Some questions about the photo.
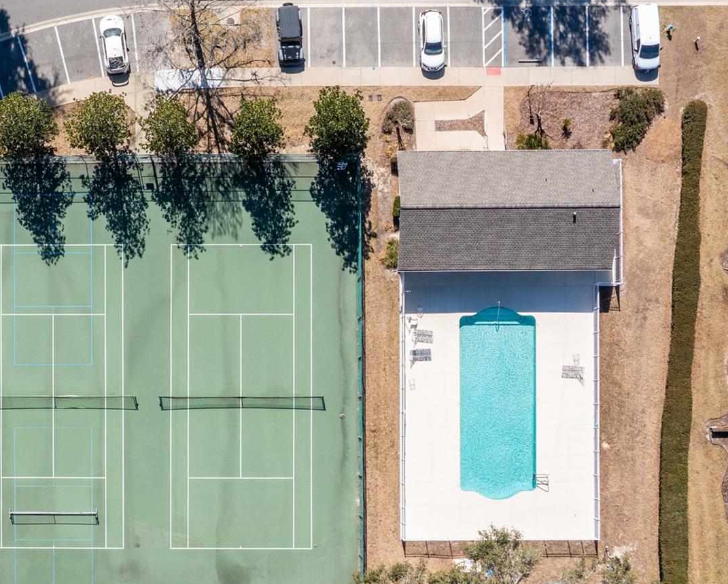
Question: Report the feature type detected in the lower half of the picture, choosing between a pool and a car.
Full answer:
You can see a pool in the lower half of the picture.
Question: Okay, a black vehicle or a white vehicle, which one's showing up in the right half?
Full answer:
What appears in the right half is a white vehicle.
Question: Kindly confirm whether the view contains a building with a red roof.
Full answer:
No, the photo shows no building with a red roof.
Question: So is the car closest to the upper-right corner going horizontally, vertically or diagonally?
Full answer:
What the image shows is the car closest to the upper-right corner lying vertically.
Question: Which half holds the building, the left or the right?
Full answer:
The building sits on the right side.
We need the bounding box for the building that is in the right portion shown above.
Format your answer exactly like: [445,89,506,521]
[398,150,620,272]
